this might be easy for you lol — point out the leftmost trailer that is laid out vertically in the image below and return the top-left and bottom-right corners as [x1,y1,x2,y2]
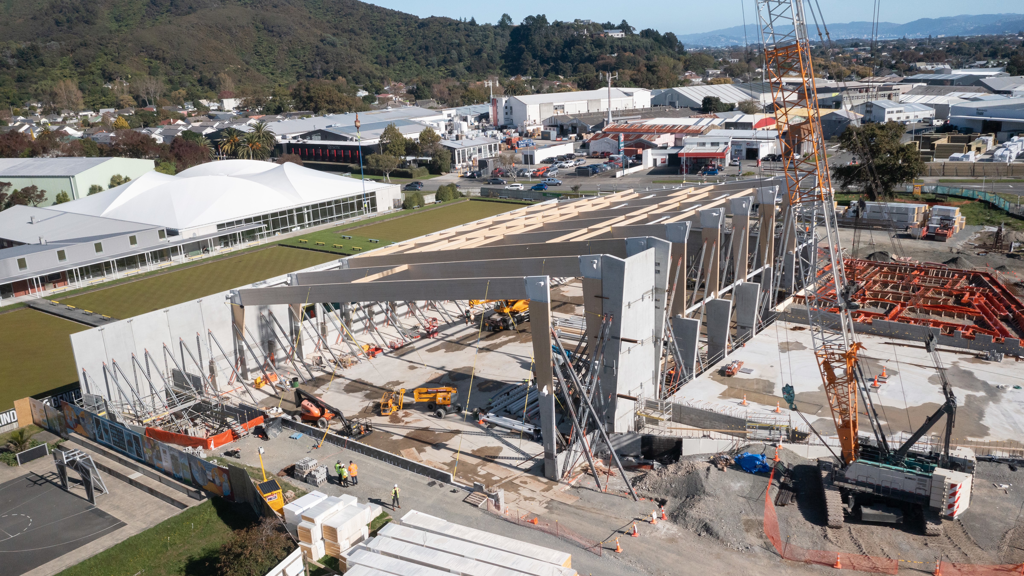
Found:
[253,424,288,521]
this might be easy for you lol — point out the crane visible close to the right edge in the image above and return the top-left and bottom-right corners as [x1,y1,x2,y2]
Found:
[754,0,989,550]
